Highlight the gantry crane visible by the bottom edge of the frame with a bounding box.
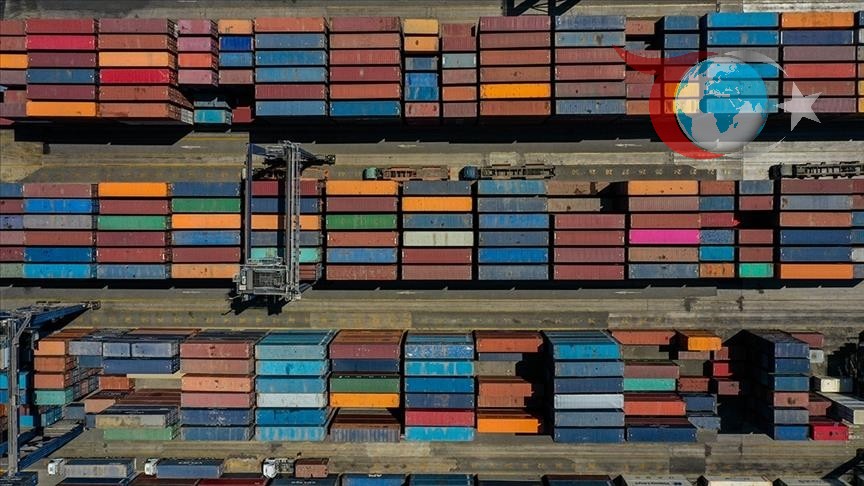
[0,300,111,483]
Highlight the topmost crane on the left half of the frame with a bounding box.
[232,141,330,308]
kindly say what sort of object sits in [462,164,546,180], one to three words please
vehicle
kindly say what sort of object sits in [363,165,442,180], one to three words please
vehicle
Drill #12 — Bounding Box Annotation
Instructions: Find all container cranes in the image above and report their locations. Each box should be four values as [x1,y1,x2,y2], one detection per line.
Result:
[232,141,330,308]
[0,300,111,483]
